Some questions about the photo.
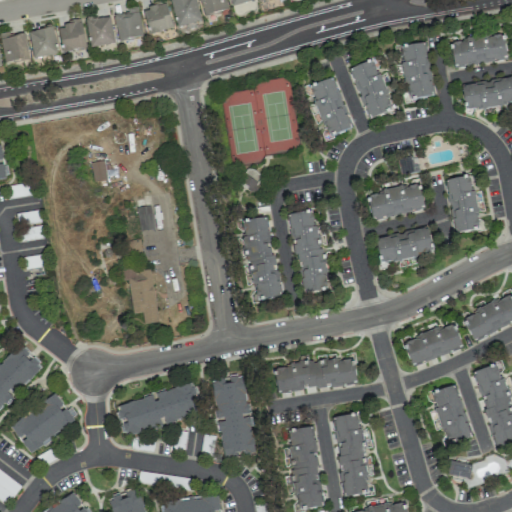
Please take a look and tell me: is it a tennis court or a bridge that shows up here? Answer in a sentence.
This aerial view contains a tennis court.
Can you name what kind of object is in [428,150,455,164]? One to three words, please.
swimming pool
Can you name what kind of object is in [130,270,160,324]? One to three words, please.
barn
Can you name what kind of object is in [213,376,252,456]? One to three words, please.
building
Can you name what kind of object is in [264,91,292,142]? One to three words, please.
tennis court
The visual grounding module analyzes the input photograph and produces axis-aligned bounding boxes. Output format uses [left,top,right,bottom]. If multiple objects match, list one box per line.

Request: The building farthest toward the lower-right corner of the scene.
[450,461,474,480]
